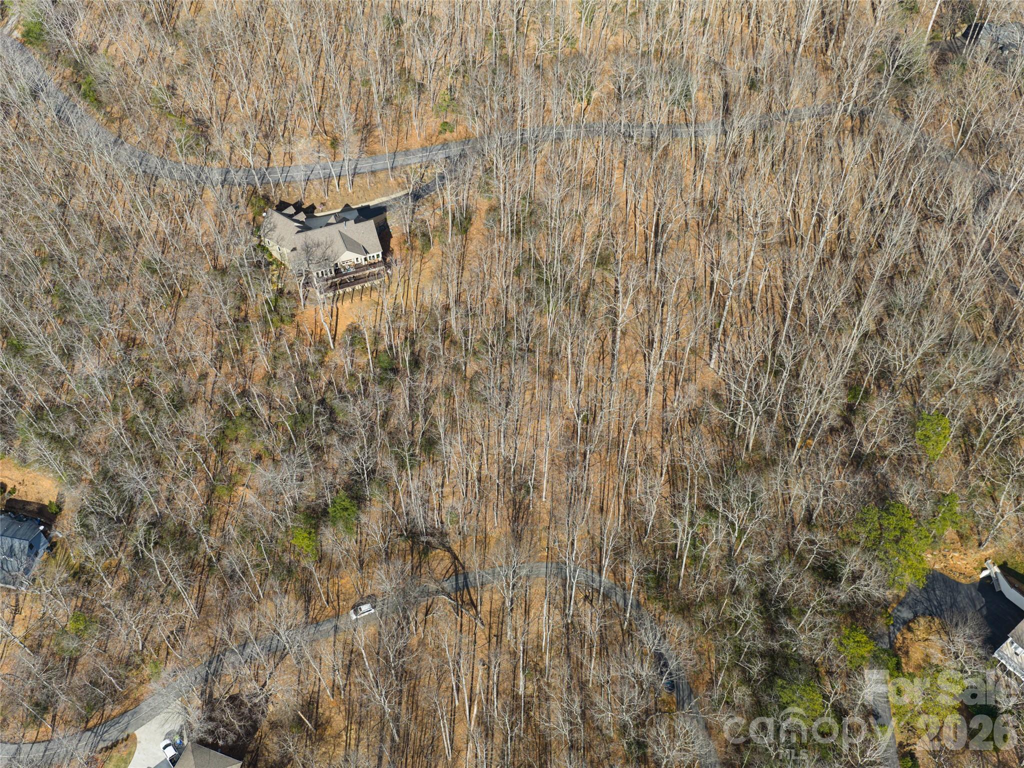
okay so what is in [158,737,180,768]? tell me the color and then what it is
white truck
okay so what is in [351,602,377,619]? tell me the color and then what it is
white car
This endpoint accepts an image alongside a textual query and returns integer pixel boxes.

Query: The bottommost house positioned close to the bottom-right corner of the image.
[970,617,1024,707]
